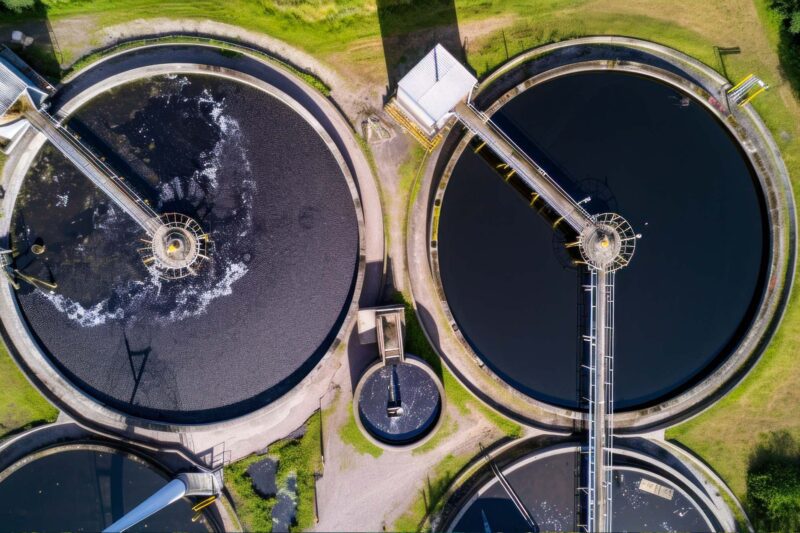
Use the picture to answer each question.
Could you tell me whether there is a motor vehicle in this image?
No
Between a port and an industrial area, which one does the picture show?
industrial area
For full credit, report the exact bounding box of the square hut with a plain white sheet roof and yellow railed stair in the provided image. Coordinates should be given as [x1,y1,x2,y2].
[396,43,477,140]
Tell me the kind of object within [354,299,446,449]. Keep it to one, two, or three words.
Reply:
storage tank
